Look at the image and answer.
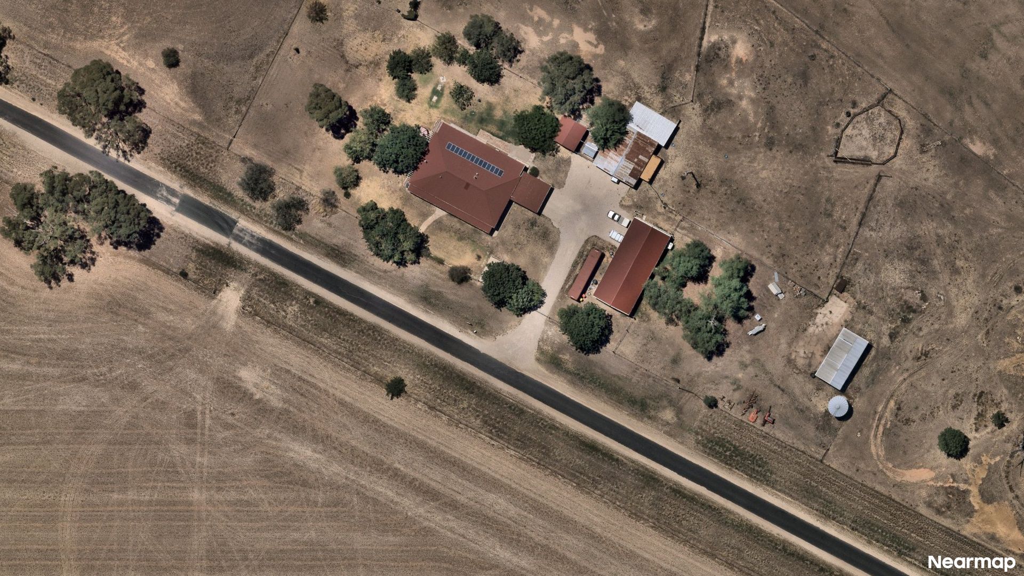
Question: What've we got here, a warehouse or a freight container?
freight container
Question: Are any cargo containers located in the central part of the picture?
Yes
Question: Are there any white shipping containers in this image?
No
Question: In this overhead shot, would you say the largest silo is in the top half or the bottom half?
bottom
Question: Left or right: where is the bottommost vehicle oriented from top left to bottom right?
right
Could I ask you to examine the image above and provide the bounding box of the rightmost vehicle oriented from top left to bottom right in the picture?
[766,280,786,302]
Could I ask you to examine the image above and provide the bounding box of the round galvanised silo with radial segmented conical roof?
[827,395,850,417]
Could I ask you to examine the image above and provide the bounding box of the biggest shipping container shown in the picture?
[568,248,602,300]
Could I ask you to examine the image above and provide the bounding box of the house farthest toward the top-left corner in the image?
[404,120,525,237]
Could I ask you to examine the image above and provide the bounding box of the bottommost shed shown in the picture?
[815,327,869,390]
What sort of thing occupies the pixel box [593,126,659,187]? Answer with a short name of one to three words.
shed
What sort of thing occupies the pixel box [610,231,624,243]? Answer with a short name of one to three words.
vehicle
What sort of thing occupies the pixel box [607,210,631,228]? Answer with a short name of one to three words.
vehicle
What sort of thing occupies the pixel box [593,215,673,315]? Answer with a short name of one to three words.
shed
